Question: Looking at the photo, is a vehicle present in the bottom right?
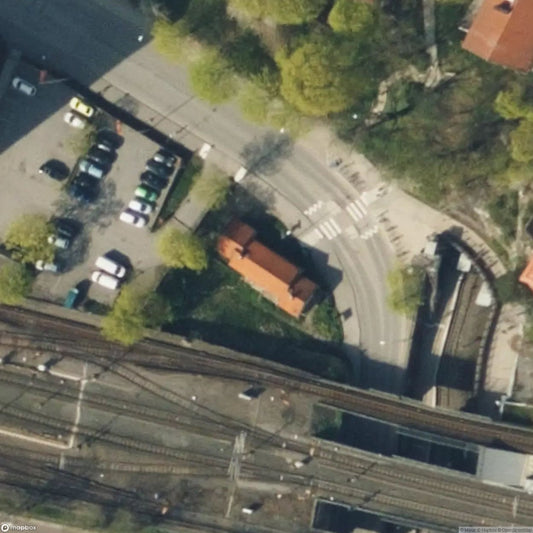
No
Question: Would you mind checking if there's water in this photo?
No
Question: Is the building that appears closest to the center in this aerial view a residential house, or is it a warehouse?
residential house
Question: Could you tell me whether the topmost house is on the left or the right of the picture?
right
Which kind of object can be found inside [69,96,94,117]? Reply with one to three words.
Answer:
car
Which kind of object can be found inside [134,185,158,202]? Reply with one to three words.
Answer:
car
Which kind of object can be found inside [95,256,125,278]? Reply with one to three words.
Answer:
vehicle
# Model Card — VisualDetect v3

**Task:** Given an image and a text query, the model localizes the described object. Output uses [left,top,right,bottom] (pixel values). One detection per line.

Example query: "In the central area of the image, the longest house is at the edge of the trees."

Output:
[214,215,319,316]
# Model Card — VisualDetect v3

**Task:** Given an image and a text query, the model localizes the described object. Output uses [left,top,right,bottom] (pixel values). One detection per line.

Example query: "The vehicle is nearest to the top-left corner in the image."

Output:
[12,78,36,96]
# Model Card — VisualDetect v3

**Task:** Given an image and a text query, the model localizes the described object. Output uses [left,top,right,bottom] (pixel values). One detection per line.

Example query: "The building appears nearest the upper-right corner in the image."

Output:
[461,0,533,75]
